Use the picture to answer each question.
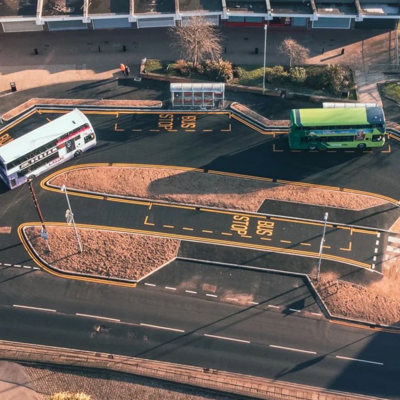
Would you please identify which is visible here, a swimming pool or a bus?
bus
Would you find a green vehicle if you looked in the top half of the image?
Yes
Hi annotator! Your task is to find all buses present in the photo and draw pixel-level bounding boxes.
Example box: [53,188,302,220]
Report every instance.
[289,107,391,151]
[0,107,101,190]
